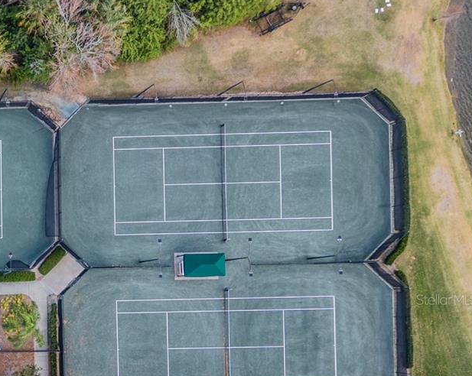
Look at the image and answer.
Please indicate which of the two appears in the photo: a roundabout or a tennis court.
tennis court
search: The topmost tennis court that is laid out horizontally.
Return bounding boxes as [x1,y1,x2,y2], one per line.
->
[60,97,393,267]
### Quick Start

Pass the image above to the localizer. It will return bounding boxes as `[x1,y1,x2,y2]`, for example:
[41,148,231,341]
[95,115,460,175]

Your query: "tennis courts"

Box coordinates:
[0,106,57,270]
[60,260,398,376]
[60,97,393,267]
